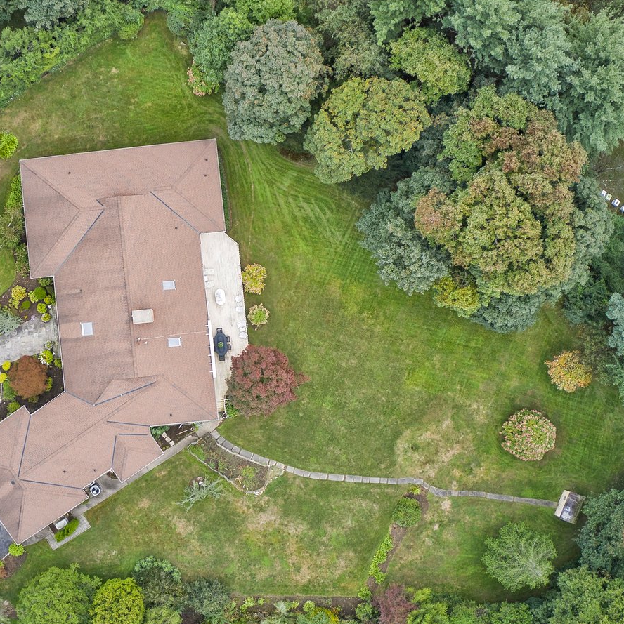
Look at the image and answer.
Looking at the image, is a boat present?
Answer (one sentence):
No, no boat is visible in the view.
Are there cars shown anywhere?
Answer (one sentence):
No, the frame has no car in it.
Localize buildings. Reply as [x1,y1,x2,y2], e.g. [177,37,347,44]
[0,137,226,546]
[555,490,584,524]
